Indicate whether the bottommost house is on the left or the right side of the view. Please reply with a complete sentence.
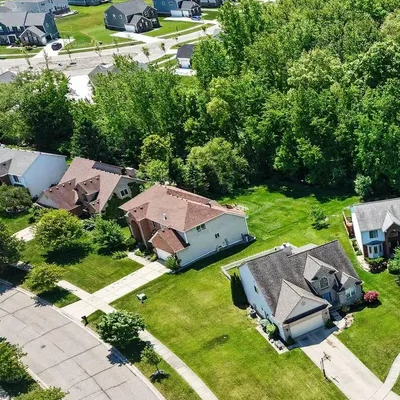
You can find the bottommost house on the right side of the picture.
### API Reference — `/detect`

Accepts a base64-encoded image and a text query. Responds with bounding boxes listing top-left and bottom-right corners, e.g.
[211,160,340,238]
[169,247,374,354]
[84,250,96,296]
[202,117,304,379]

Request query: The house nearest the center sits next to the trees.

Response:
[123,183,245,268]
